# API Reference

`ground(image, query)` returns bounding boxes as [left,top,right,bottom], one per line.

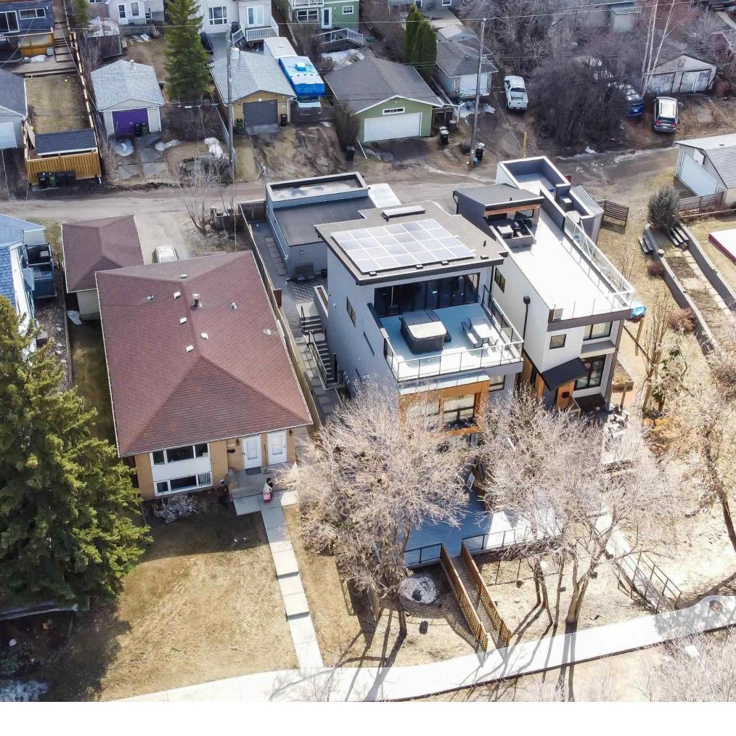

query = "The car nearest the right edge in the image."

[652,98,682,129]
